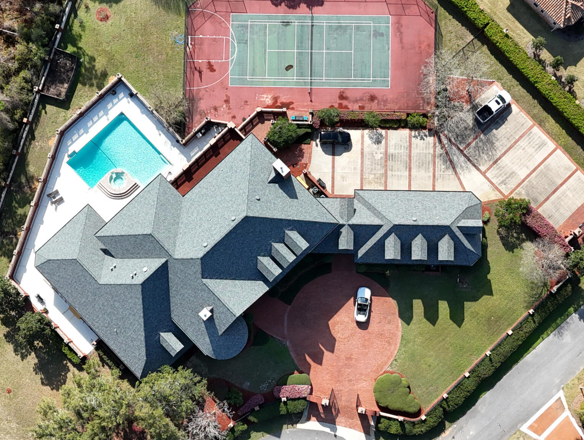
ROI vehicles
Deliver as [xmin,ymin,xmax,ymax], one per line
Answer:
[355,287,372,322]
[473,90,512,126]
[318,129,352,144]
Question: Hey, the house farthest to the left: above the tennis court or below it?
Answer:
below it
